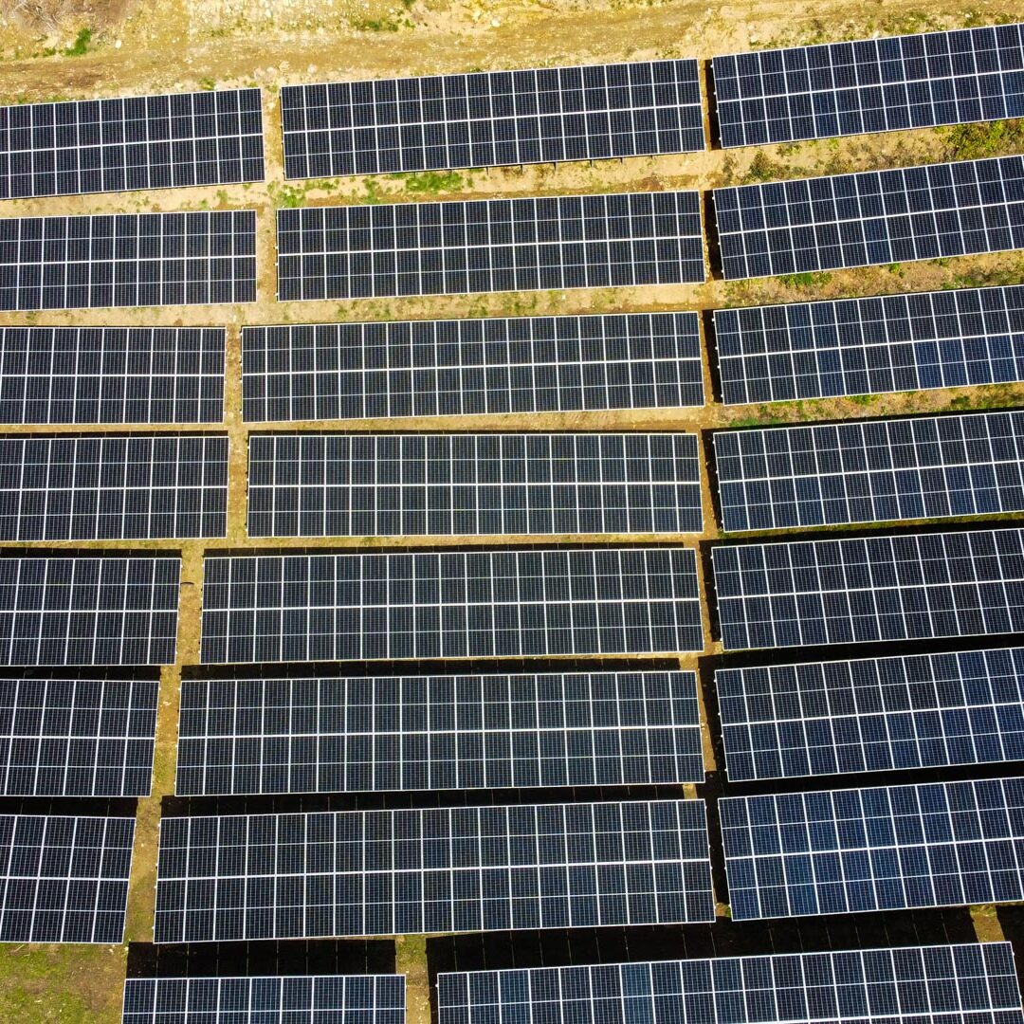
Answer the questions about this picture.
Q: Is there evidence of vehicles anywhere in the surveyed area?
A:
No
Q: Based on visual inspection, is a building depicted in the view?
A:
No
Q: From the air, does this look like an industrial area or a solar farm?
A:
solar farm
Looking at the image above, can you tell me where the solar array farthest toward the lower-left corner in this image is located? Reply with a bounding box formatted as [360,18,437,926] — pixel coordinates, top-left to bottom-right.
[0,815,137,942]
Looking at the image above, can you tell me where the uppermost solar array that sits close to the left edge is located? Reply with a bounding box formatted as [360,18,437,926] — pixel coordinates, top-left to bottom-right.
[0,88,265,199]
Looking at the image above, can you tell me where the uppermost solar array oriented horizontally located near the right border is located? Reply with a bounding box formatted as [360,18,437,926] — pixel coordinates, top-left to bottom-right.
[712,23,1024,148]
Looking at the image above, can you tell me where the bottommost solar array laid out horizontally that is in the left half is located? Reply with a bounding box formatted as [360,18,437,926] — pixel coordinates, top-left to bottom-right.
[123,975,407,1024]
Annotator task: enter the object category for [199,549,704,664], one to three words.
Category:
solar array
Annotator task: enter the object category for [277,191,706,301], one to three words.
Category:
solar array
